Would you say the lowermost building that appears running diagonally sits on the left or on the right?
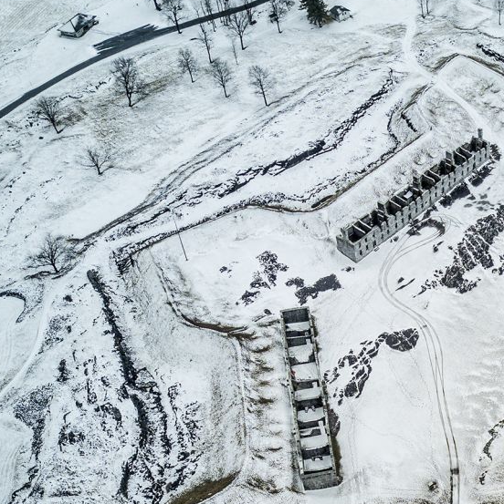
right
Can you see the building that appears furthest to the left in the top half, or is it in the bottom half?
top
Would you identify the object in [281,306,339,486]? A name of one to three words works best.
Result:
building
